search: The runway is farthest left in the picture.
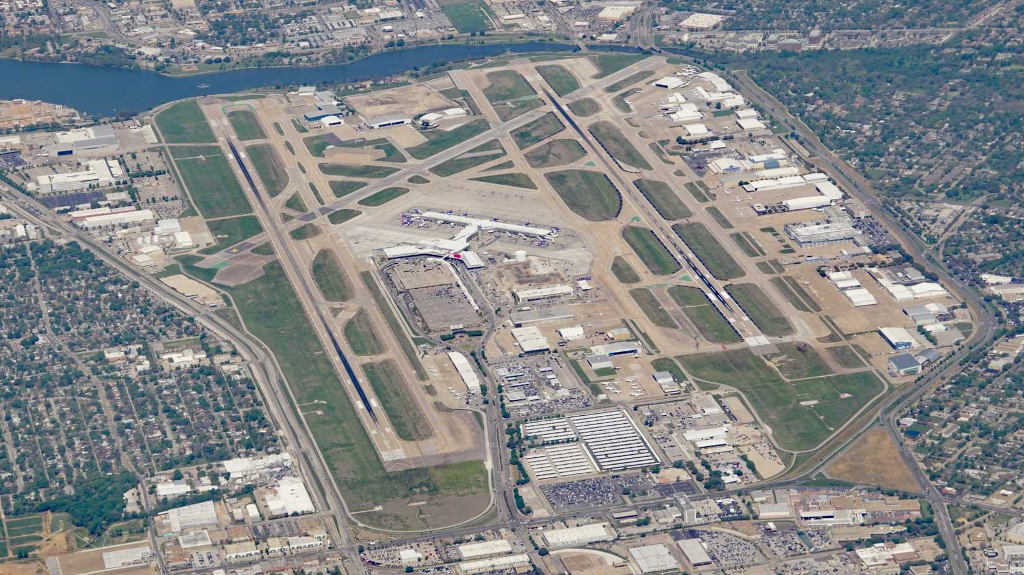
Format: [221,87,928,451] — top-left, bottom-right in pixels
[198,100,409,461]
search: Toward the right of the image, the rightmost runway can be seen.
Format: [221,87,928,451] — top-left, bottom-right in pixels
[515,68,773,346]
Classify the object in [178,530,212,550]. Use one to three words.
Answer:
building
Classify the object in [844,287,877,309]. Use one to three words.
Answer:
hangar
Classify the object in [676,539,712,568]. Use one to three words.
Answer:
building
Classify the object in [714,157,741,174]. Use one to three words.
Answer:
hangar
